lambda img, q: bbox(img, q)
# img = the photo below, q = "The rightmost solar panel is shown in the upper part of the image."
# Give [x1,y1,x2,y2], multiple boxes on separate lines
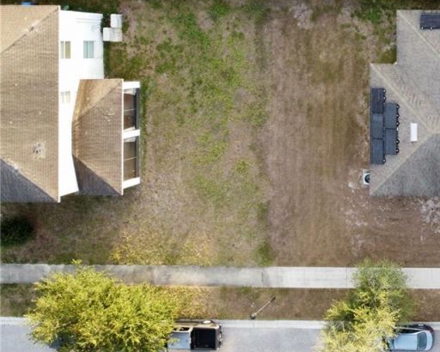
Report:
[420,14,440,28]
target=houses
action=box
[369,10,440,196]
[0,4,140,202]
